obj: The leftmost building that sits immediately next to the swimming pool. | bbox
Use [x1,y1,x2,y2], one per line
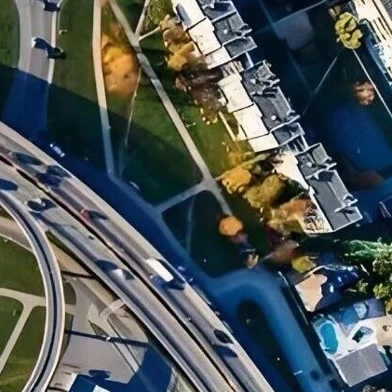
[291,268,351,316]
